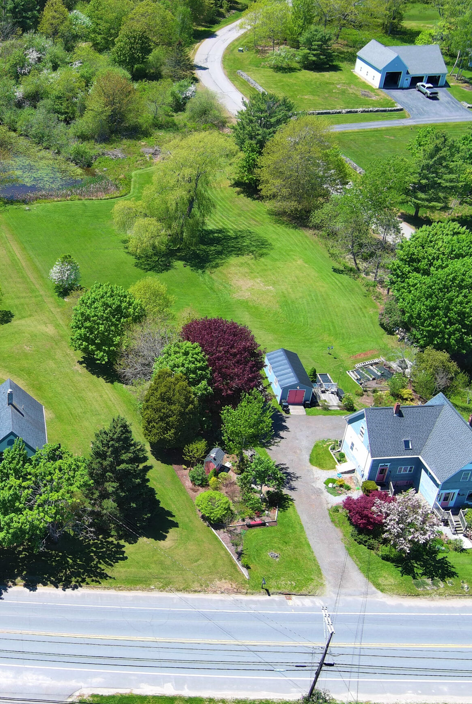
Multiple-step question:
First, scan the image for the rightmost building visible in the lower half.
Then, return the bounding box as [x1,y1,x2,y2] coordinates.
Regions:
[342,384,472,527]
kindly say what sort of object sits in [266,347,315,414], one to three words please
shed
